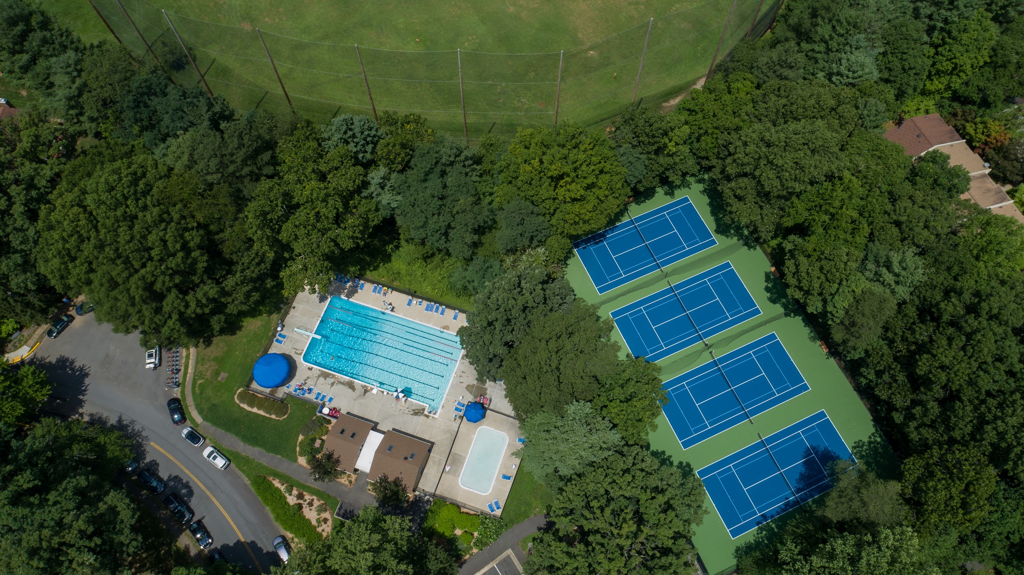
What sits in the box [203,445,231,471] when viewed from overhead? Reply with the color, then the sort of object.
white car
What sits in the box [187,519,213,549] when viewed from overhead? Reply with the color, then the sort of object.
black car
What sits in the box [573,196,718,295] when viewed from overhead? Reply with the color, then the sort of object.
blue tennis court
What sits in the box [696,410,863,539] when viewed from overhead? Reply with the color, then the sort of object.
blue tennis court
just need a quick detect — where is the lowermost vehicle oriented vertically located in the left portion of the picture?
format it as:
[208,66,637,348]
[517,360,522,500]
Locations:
[273,532,289,564]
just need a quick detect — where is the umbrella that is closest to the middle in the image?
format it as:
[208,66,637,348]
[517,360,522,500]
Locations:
[463,403,485,425]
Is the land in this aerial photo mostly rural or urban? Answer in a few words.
rural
